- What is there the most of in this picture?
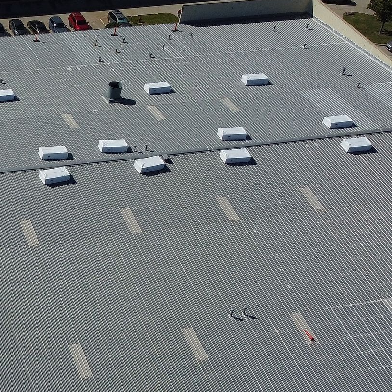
buildings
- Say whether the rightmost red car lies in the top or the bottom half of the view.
top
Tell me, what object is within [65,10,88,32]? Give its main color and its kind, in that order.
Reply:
red car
